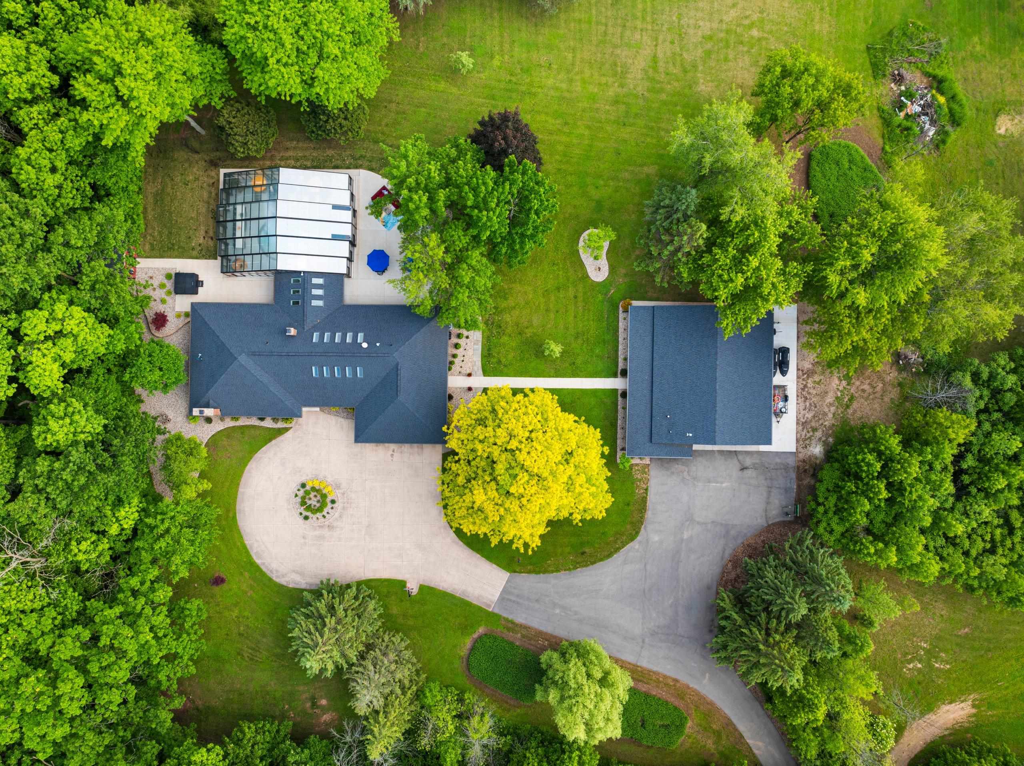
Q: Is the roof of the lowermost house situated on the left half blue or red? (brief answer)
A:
blue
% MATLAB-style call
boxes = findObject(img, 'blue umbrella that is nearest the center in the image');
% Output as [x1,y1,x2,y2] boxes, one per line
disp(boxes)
[367,249,390,272]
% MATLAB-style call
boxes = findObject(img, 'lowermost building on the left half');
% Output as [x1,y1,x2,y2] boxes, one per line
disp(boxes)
[188,270,450,446]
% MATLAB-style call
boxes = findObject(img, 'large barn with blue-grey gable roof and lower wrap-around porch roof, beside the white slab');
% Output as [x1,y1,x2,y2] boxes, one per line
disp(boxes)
[625,305,775,459]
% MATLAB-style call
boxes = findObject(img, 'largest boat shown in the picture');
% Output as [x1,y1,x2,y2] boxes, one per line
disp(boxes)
[777,346,789,377]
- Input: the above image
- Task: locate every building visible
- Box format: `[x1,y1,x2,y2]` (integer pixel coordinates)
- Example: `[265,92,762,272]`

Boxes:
[188,270,450,446]
[625,305,775,459]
